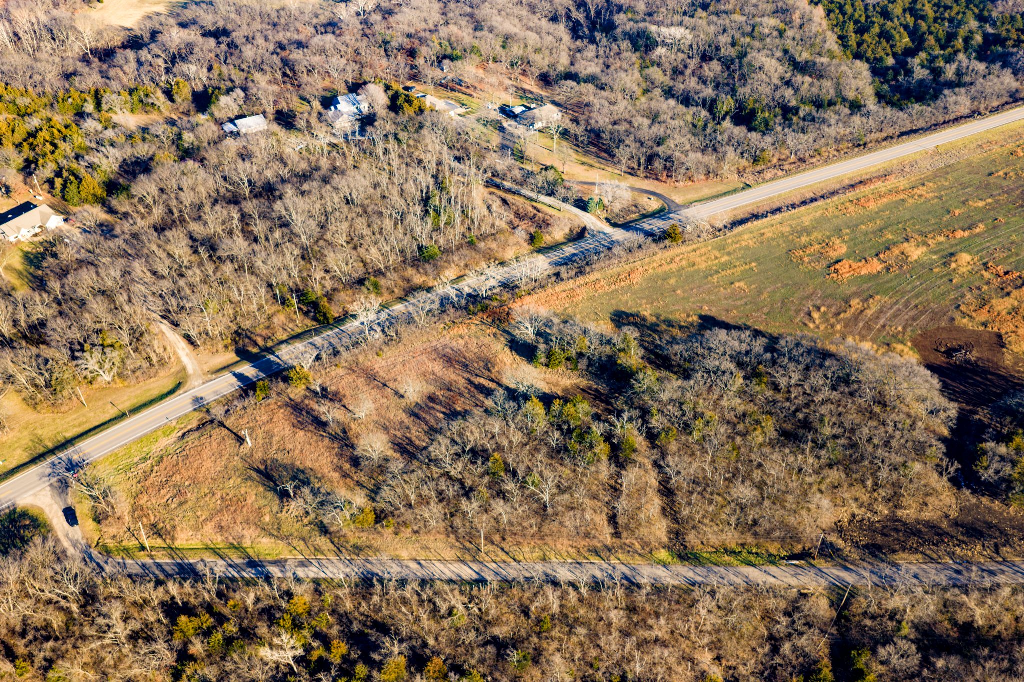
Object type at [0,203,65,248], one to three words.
house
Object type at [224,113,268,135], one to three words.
barn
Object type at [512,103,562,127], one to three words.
house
